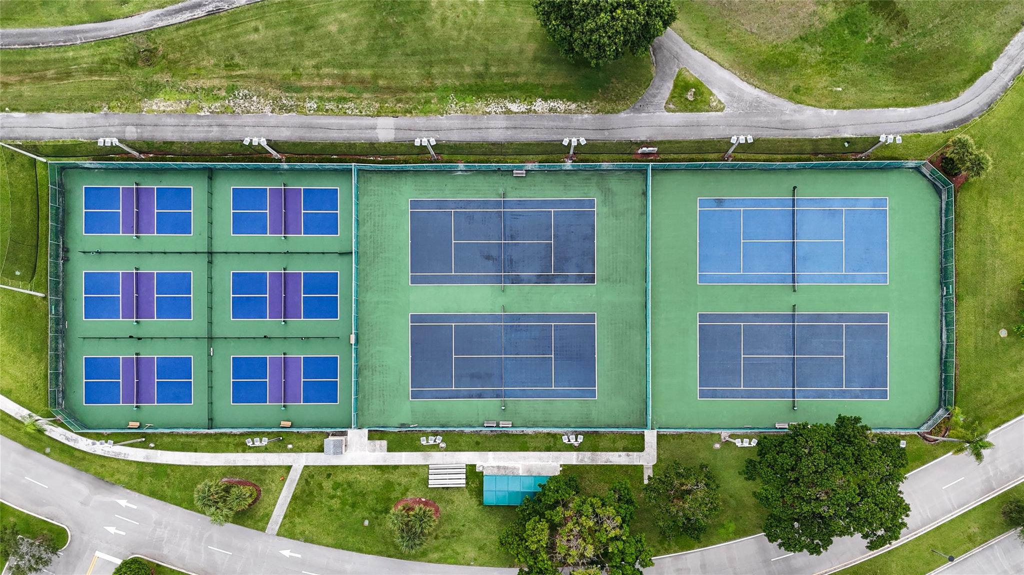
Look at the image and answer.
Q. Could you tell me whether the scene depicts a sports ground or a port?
sports ground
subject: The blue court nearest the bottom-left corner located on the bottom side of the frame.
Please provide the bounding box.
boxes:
[83,356,193,405]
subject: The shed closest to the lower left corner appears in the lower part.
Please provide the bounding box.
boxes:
[324,436,350,456]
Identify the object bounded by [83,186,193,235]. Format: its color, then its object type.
blue sports court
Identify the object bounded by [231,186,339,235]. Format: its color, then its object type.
blue sports court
